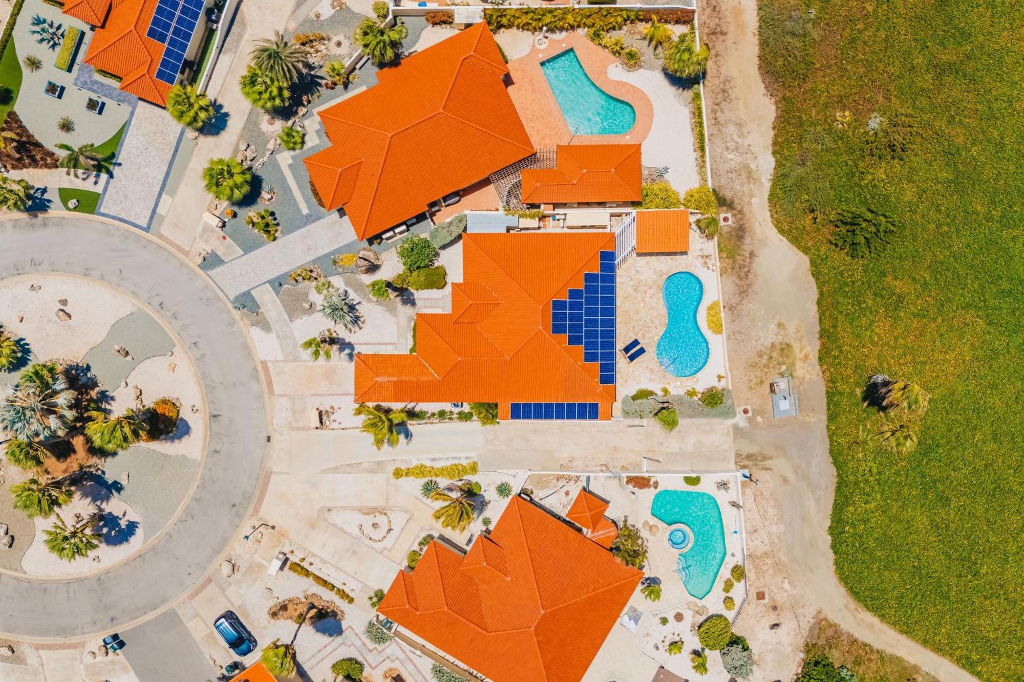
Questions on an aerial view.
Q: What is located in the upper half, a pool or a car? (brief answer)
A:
pool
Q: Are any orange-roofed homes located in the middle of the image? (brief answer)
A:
Yes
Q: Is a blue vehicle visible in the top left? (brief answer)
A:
No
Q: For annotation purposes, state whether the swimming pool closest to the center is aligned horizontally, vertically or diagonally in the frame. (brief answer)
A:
vertically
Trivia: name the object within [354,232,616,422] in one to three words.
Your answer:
house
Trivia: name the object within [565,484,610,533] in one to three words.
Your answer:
gazebo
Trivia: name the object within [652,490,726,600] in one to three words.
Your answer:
swimming pool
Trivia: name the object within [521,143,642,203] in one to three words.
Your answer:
building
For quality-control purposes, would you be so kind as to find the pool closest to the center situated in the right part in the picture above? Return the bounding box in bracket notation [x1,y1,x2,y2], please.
[657,271,713,377]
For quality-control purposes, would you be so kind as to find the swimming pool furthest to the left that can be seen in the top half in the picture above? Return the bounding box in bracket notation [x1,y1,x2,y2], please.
[536,43,639,140]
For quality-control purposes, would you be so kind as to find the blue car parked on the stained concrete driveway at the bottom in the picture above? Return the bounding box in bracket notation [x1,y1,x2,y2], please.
[212,613,253,663]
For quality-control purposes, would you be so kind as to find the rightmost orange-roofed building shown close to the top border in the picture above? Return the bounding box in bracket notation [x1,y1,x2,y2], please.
[302,19,536,241]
